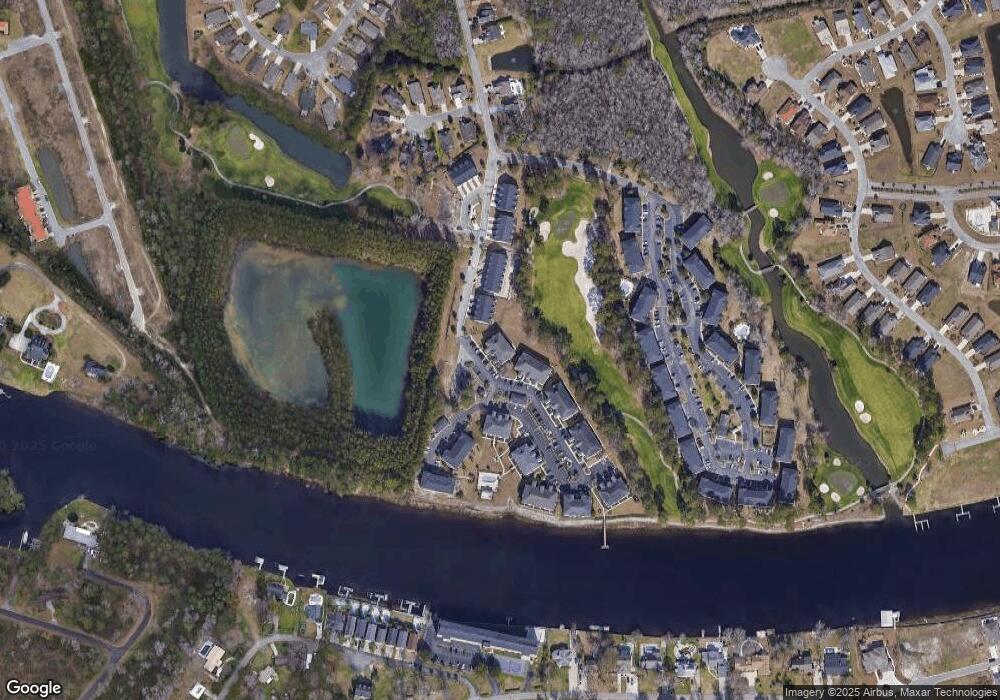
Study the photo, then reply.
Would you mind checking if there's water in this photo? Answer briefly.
Yes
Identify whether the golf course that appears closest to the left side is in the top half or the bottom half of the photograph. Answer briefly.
top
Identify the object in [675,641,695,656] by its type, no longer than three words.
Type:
swimming pool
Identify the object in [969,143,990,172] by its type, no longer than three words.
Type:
house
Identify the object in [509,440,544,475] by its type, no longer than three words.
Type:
building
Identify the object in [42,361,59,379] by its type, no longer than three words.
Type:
swimming pool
